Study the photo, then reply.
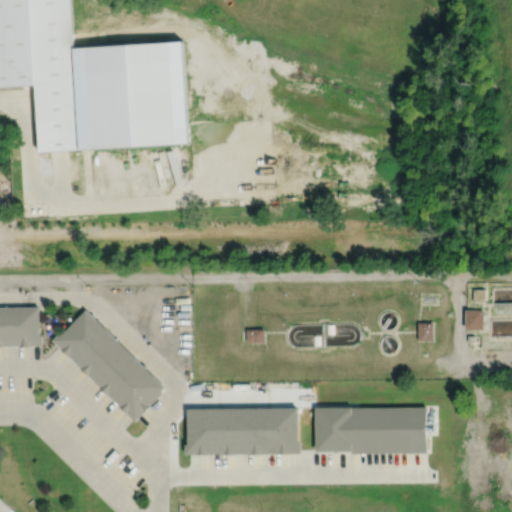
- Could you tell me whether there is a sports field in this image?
No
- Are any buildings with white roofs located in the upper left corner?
Yes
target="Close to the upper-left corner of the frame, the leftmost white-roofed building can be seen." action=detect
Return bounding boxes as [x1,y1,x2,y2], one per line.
[0,0,76,152]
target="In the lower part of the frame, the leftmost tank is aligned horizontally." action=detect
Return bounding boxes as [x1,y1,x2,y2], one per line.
[288,320,362,350]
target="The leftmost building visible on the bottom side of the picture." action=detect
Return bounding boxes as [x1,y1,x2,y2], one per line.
[0,308,41,346]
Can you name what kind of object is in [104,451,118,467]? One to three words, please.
vehicle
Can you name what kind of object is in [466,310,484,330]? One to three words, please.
building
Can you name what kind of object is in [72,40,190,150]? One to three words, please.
building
